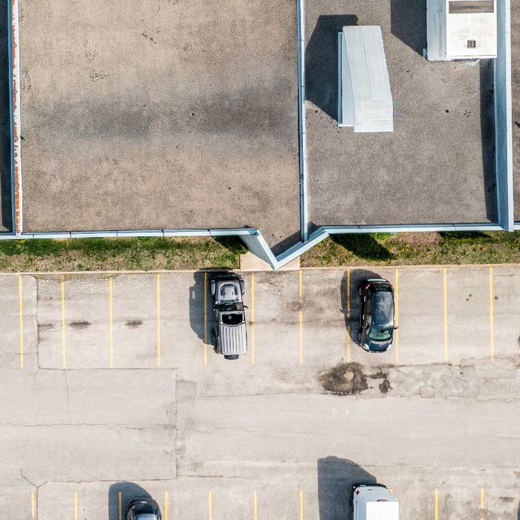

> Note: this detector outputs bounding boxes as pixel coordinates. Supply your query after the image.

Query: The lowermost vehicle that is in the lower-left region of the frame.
[123,492,158,520]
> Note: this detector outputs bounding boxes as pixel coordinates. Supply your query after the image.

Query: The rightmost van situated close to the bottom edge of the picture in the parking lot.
[350,480,404,520]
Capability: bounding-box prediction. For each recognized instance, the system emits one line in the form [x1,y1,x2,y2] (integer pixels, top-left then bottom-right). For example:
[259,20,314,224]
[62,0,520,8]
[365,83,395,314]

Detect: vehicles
[350,480,404,520]
[355,277,398,352]
[206,273,249,361]
[123,492,158,520]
